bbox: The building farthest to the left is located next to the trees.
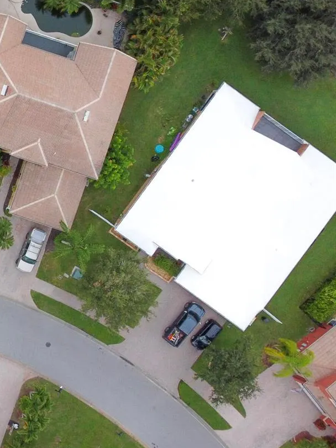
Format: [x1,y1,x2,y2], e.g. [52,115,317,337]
[0,11,137,230]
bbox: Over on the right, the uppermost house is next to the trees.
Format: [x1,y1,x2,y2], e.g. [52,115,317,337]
[111,81,336,332]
